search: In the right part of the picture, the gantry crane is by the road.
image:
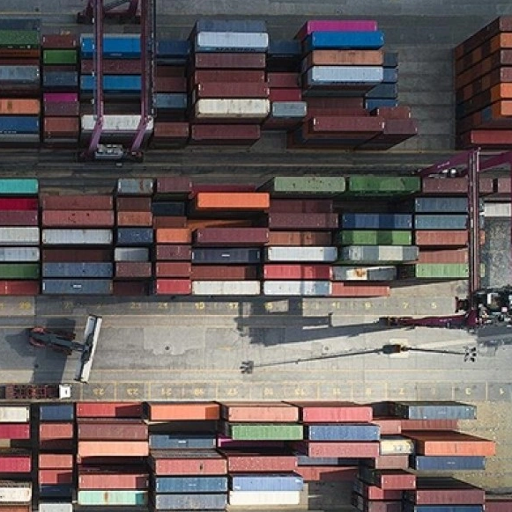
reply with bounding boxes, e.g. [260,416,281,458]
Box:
[375,148,512,333]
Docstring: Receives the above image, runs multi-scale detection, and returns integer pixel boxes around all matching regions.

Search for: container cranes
[375,148,512,333]
[67,0,152,155]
